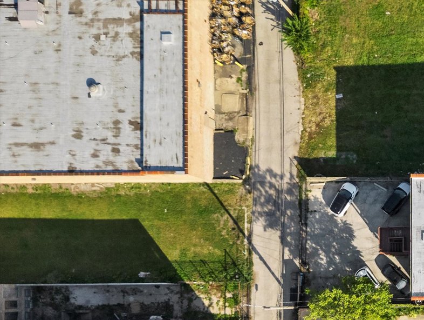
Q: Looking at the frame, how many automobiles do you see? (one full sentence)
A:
My tally gives 4 automobiles in this view.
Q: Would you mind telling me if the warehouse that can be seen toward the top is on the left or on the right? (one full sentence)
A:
You can find the warehouse that can be seen toward the top on the left side of the picture.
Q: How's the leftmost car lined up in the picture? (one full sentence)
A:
I'd say the leftmost car is aligned on a diagonal in the picture.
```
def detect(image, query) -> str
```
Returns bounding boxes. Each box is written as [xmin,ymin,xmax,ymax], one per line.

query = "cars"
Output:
[329,180,360,218]
[352,259,386,296]
[380,179,411,218]
[376,256,410,293]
